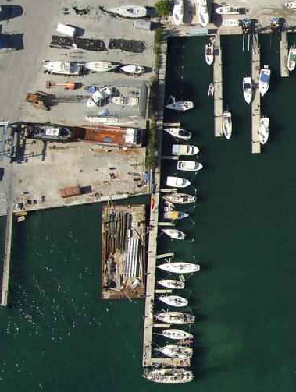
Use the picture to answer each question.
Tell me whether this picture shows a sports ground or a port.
port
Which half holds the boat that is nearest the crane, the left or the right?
left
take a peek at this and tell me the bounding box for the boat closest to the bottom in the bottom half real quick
[142,369,194,383]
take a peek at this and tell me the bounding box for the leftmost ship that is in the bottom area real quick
[101,198,147,301]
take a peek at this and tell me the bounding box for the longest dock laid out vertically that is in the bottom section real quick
[142,121,190,367]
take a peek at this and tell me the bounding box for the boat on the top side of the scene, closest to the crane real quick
[88,86,114,107]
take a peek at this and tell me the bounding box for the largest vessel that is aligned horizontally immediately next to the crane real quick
[72,124,146,149]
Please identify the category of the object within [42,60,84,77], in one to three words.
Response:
boat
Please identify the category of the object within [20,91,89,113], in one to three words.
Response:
crane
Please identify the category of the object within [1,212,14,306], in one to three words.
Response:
pier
